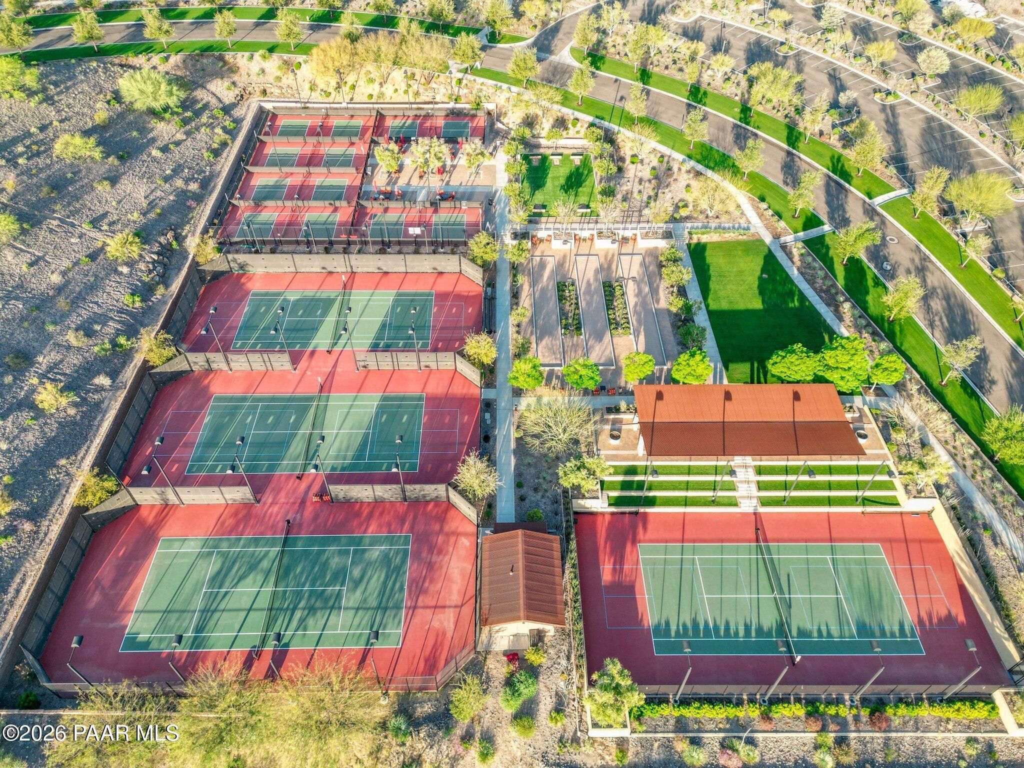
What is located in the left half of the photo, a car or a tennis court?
tennis court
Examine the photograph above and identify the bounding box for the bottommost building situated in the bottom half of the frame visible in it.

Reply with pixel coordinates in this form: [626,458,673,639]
[481,522,567,637]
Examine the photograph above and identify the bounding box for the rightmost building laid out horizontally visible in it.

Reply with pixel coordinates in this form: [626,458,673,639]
[618,383,870,457]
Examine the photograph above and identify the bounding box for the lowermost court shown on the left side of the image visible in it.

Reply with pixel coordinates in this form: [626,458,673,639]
[39,501,476,697]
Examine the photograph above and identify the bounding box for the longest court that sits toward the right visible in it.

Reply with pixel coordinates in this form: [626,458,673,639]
[574,511,1008,696]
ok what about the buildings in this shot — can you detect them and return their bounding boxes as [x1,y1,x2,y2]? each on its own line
[618,383,870,457]
[481,522,567,637]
